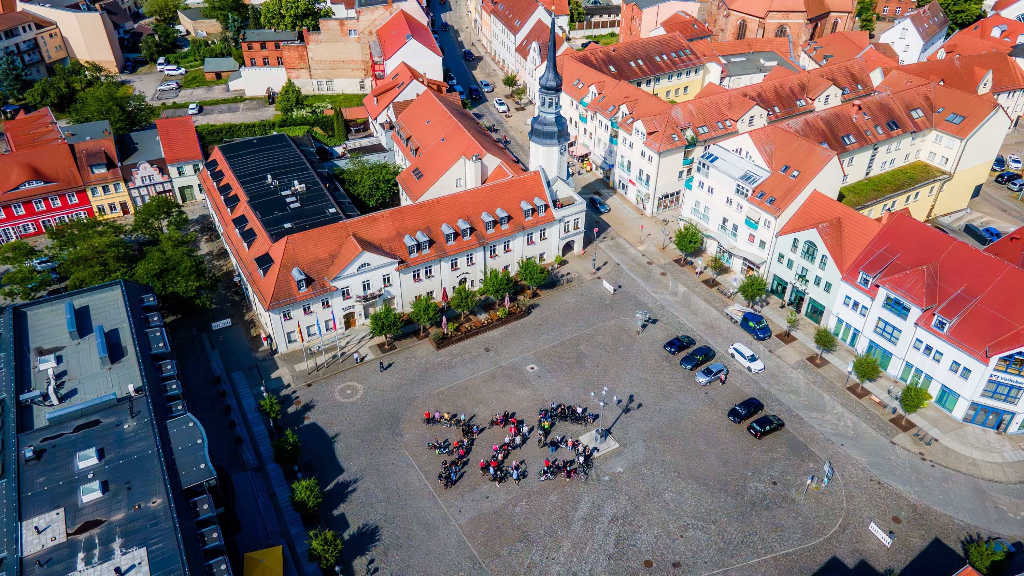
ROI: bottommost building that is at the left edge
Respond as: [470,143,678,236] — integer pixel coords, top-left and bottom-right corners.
[0,277,258,576]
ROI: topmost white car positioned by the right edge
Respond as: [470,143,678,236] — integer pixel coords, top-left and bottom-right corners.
[1006,153,1023,170]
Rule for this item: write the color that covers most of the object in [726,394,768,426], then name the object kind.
black car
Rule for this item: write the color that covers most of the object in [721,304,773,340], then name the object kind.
blue truck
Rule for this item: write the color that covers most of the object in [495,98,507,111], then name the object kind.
white vehicle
